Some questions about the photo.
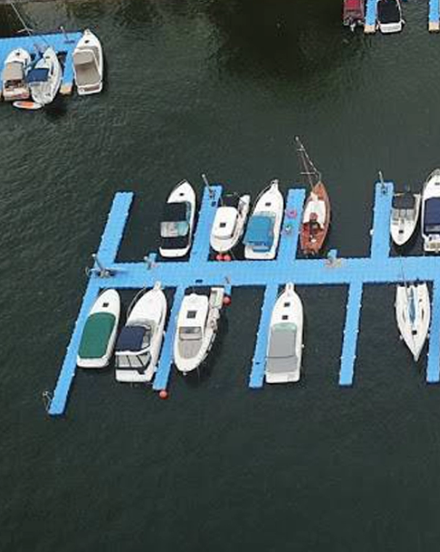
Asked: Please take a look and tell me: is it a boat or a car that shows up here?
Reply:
boat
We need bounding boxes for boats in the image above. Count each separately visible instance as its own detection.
[243,176,288,260]
[342,0,364,31]
[76,287,126,372]
[74,32,107,103]
[12,2,63,112]
[388,195,419,255]
[395,267,433,362]
[1,50,39,104]
[263,278,341,390]
[113,280,170,392]
[170,285,229,379]
[157,175,202,262]
[291,136,331,257]
[409,167,440,258]
[377,0,408,38]
[210,194,256,257]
